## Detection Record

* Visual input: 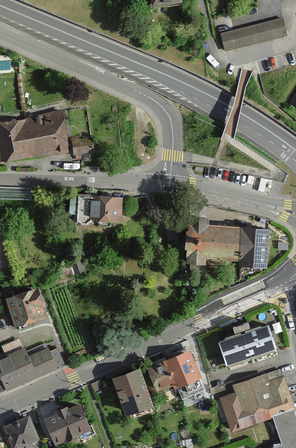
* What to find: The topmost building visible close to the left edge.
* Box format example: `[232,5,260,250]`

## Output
[0,110,69,164]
